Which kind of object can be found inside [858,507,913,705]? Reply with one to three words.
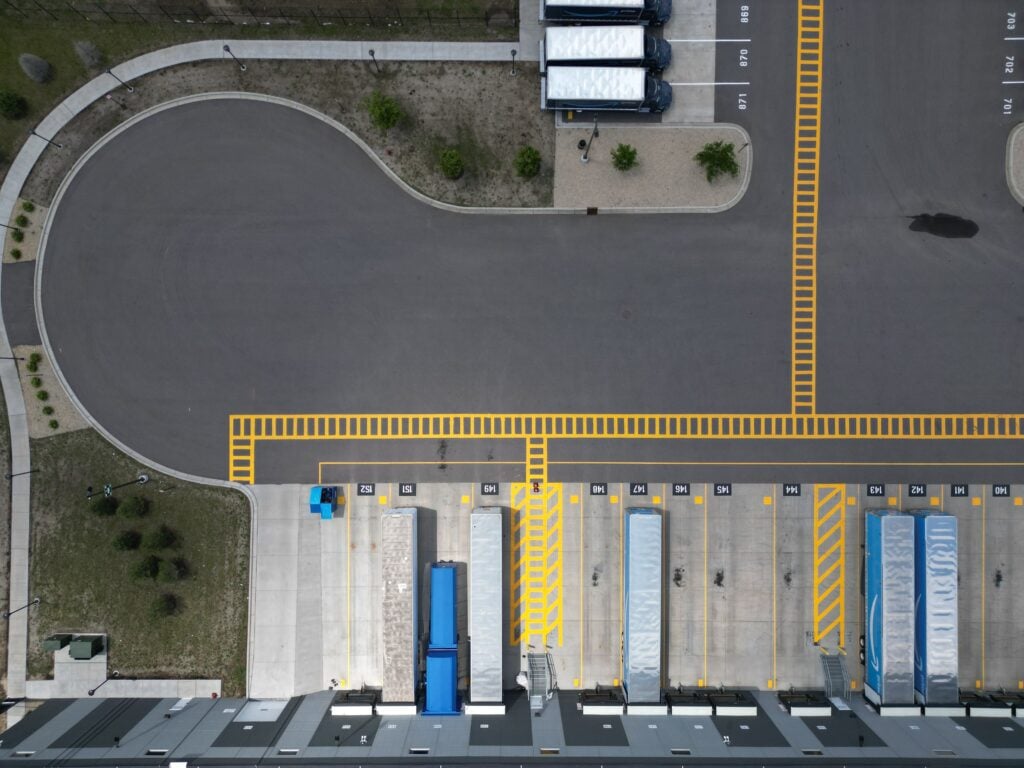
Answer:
trailer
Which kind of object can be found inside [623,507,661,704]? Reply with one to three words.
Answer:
trailer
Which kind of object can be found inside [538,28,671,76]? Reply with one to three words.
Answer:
truck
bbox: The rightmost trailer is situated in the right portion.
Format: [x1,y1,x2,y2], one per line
[905,507,957,705]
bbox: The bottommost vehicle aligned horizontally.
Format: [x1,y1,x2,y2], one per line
[539,68,672,115]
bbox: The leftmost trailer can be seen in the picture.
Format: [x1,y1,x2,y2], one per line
[381,507,419,704]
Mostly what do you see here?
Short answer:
paved ground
